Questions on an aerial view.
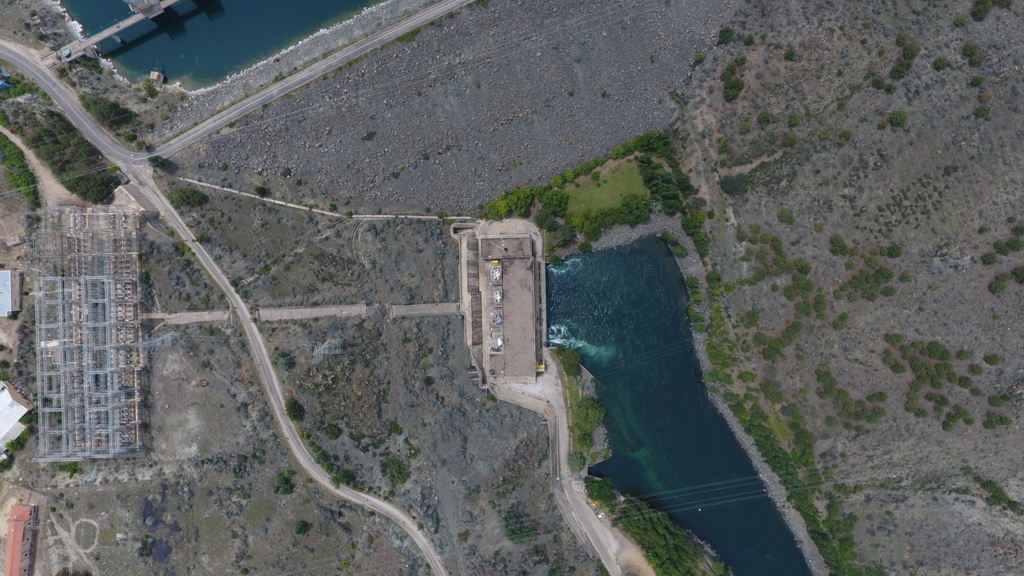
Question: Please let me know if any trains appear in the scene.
No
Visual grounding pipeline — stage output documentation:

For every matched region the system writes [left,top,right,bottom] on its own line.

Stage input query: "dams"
[150,0,736,215]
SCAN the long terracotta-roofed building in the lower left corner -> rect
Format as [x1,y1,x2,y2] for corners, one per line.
[4,502,38,576]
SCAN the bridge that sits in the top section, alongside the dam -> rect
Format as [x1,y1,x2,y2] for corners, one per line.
[41,0,189,69]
